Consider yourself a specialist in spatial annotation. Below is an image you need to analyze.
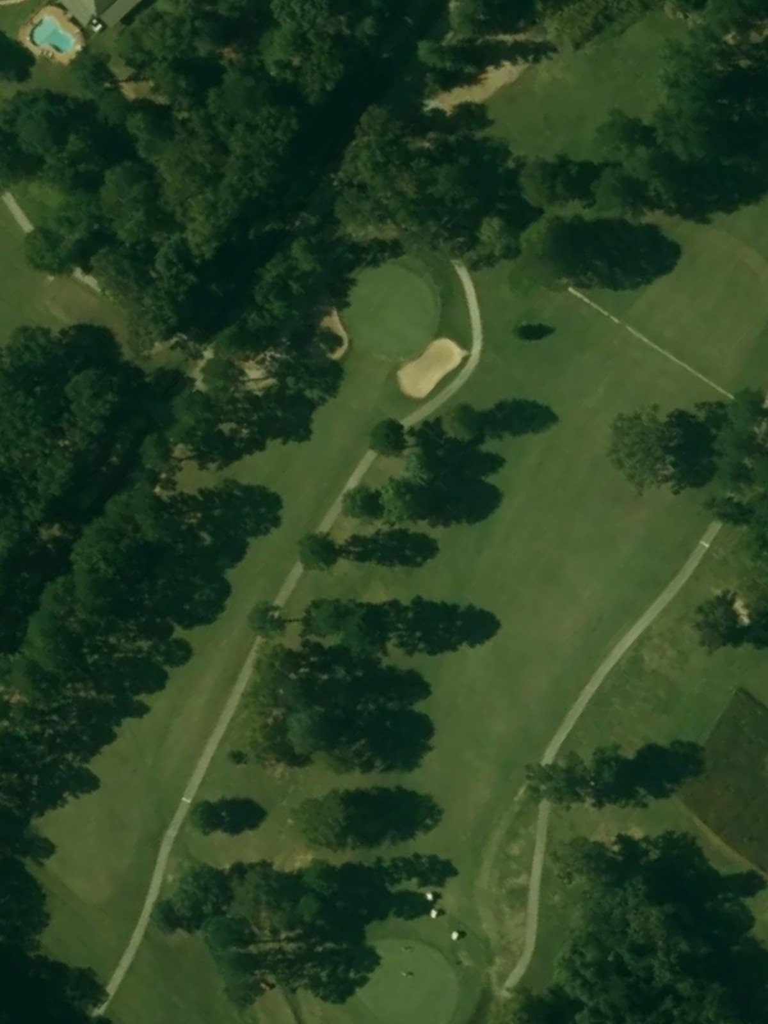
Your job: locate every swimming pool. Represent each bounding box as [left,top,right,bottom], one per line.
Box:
[19,5,85,65]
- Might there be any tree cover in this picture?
Yes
